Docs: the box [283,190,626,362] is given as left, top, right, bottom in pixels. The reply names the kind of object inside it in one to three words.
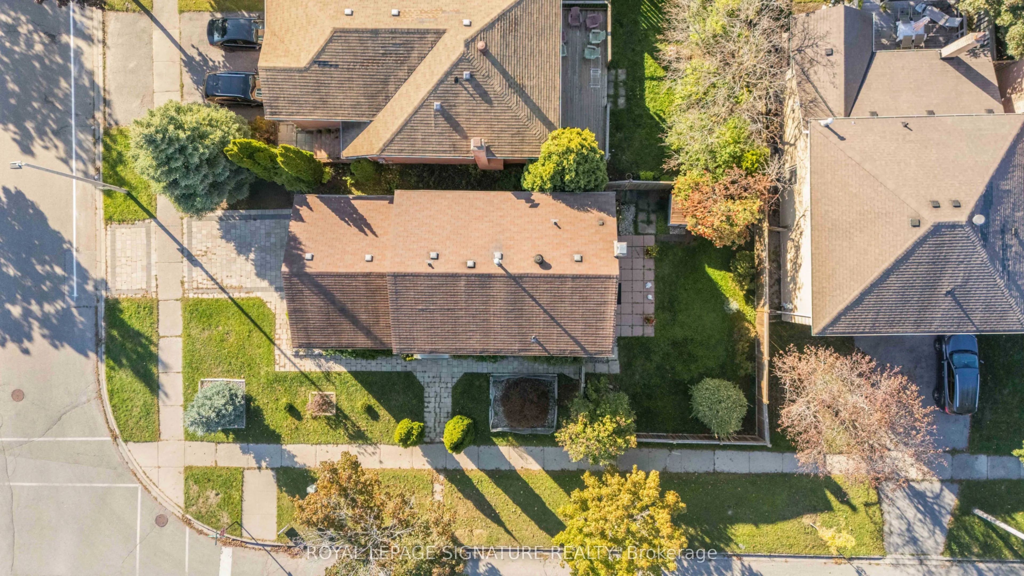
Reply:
house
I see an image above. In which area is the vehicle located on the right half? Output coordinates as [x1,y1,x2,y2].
[931,333,982,415]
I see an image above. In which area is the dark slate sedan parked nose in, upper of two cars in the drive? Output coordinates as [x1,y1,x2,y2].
[208,13,265,55]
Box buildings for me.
[781,5,1024,336]
[283,190,626,362]
[662,196,683,229]
[258,0,562,171]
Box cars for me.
[931,333,982,415]
[204,68,264,110]
[208,13,265,55]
